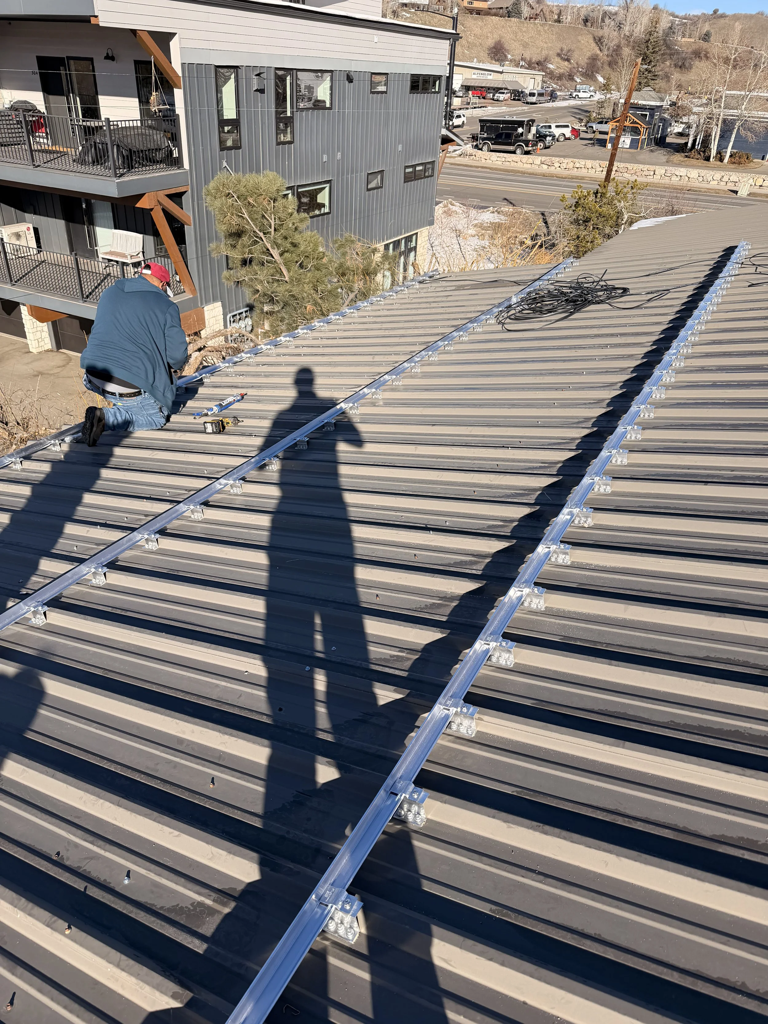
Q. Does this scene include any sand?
No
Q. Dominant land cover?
buildings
